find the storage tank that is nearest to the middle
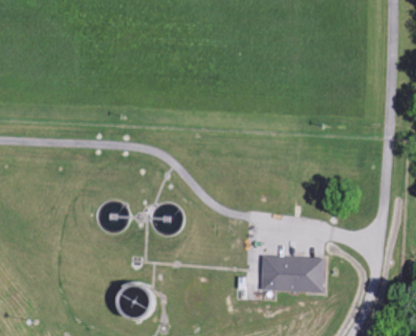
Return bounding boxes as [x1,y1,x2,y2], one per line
[151,200,186,236]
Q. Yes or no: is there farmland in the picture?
Yes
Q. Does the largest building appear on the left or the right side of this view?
right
